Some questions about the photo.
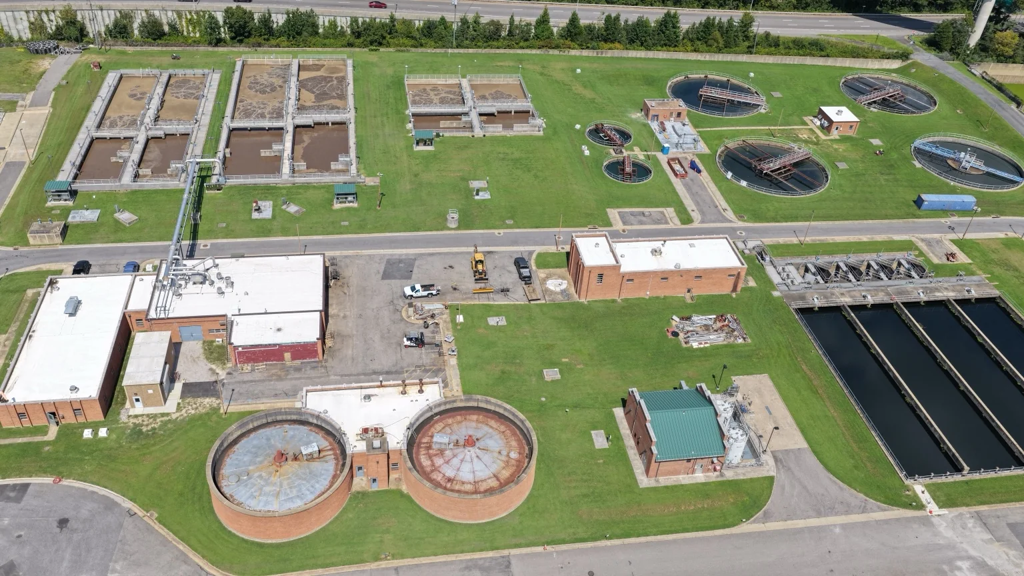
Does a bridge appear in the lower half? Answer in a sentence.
No, the scene shows no bridge in the lower half.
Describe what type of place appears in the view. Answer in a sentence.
The area seen from above is an industrial area.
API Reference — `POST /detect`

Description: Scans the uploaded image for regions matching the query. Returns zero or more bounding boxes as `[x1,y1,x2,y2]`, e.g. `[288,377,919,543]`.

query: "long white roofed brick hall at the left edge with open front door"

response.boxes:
[0,273,135,427]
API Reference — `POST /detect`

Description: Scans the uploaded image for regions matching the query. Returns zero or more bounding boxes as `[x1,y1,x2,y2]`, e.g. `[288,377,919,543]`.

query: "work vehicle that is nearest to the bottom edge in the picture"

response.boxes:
[406,330,434,347]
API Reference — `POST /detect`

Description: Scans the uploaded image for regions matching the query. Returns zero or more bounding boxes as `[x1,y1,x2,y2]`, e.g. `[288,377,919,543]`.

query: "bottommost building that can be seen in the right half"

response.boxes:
[618,376,732,478]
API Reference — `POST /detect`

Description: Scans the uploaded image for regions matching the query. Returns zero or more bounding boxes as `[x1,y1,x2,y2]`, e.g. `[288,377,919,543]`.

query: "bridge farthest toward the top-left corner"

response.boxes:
[91,125,139,141]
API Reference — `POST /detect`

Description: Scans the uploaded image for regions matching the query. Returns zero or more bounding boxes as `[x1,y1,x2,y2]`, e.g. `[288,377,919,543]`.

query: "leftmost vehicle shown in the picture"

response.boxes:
[69,259,90,276]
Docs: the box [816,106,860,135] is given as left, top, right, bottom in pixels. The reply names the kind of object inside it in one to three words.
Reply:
shed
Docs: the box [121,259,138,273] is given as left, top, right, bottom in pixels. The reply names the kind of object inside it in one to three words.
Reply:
car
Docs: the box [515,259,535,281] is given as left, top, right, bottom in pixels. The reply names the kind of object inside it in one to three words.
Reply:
vehicle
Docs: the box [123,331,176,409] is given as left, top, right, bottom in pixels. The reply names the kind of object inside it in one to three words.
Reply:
building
